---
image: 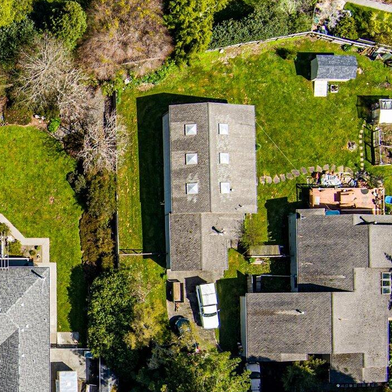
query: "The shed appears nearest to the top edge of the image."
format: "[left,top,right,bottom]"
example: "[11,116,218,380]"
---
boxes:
[300,56,356,96]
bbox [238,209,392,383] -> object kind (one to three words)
house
